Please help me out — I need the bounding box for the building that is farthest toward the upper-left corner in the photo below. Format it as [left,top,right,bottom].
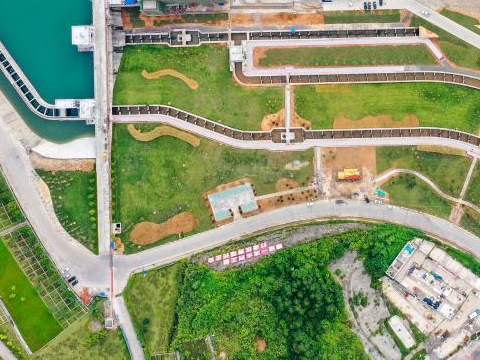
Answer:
[71,26,97,51]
